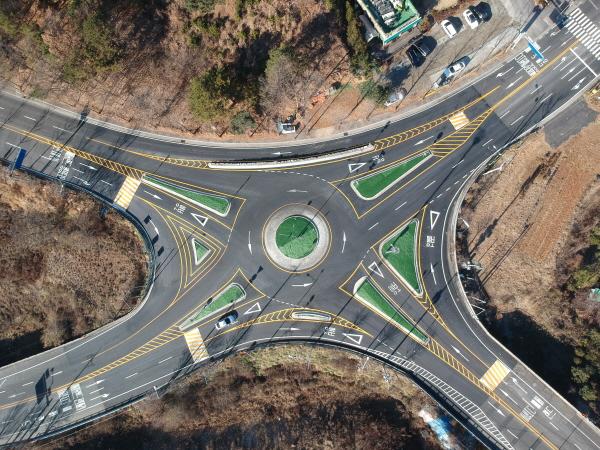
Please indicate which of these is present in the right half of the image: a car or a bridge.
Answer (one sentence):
The feature located in the right half of the image is a car.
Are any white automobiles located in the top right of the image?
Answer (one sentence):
Yes, a white automobile shows up in the top right of the image.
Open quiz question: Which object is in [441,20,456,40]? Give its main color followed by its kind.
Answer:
white car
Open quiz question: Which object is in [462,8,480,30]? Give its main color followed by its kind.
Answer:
white car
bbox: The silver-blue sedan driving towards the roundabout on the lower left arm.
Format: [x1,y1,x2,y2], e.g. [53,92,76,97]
[214,311,238,330]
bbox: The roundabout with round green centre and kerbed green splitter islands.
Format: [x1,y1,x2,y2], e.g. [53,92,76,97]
[142,142,432,344]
